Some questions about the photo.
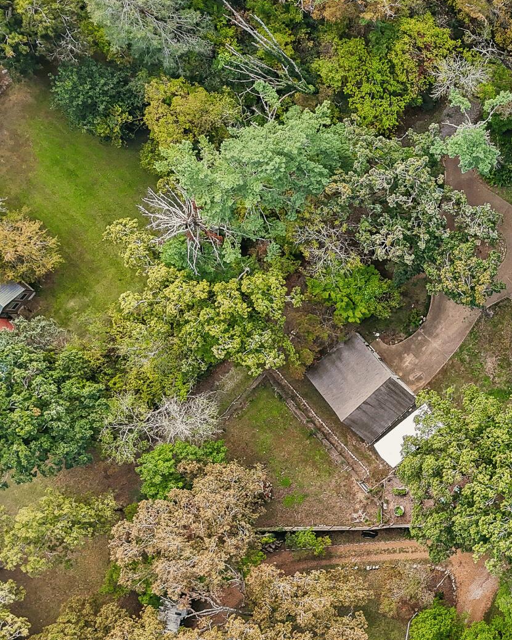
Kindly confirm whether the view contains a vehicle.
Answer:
No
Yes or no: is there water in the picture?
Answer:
No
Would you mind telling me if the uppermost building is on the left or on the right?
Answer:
left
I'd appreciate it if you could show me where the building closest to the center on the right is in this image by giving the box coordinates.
[306,332,417,446]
